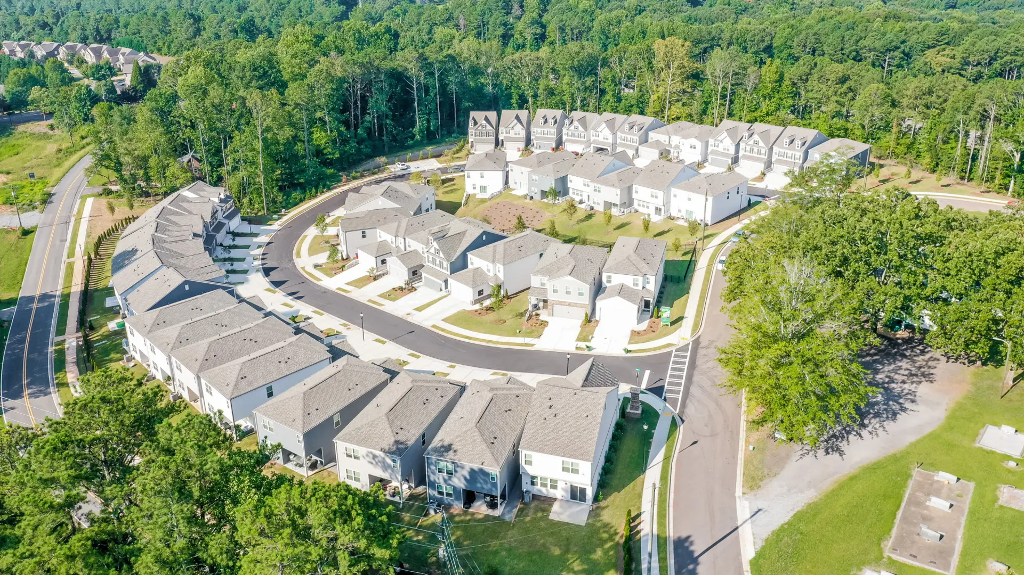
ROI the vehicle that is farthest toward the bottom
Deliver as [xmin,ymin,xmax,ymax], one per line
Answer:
[716,252,729,265]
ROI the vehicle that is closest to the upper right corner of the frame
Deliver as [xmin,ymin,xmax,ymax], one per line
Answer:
[730,228,745,240]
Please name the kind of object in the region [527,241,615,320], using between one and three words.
house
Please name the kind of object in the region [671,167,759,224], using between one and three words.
house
